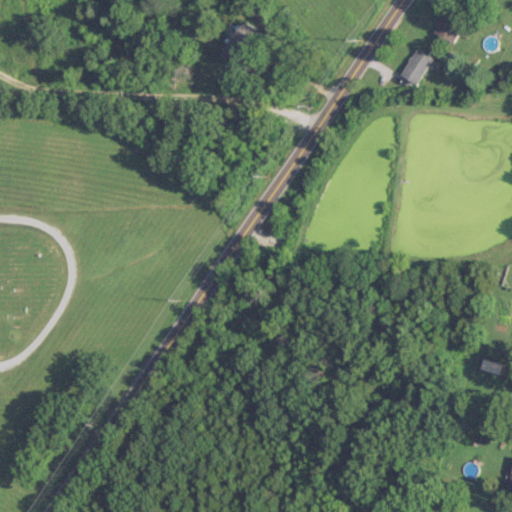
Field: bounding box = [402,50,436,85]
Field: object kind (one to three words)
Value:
house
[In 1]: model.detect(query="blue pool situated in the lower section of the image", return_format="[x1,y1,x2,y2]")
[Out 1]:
[464,459,480,478]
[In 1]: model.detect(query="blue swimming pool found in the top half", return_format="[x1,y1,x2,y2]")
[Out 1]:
[482,36,502,52]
